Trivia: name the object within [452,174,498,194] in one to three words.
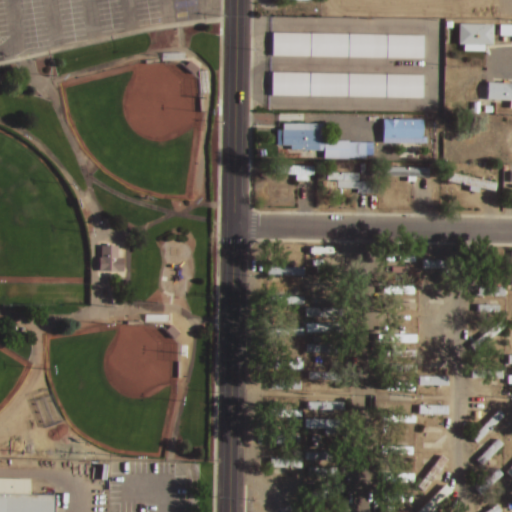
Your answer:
house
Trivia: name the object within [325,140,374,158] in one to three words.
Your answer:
building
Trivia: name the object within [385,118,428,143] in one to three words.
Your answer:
building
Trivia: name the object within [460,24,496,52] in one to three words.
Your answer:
house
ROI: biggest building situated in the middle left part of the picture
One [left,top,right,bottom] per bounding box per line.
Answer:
[100,244,126,271]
